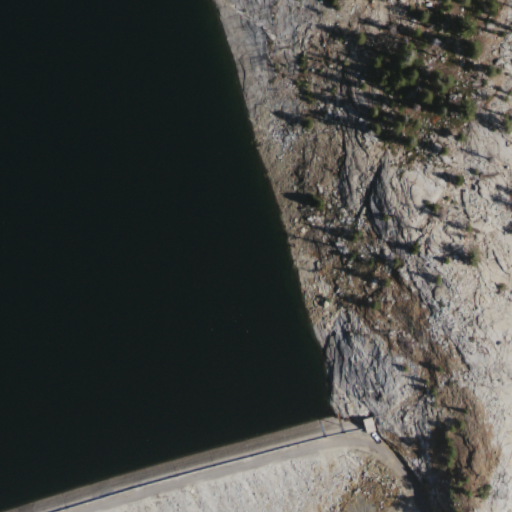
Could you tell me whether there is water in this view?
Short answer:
Yes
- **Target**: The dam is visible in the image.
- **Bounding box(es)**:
[0,417,362,512]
